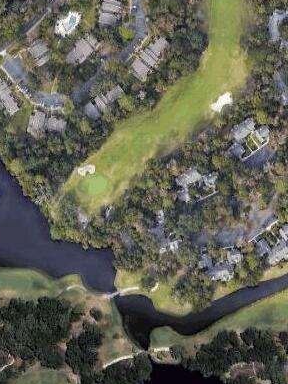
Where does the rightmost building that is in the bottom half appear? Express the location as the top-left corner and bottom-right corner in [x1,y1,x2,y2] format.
[253,223,288,266]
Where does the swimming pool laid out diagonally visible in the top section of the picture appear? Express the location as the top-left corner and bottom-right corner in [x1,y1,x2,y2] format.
[56,11,82,37]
